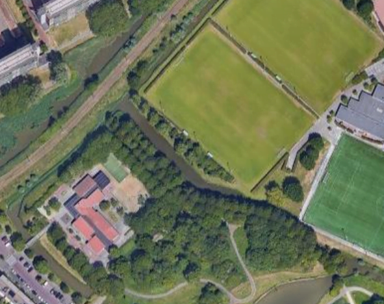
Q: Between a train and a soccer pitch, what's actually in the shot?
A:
soccer pitch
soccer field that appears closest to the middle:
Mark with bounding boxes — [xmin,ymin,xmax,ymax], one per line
[147,31,313,190]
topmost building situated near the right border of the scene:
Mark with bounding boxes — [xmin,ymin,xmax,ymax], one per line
[335,84,384,139]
